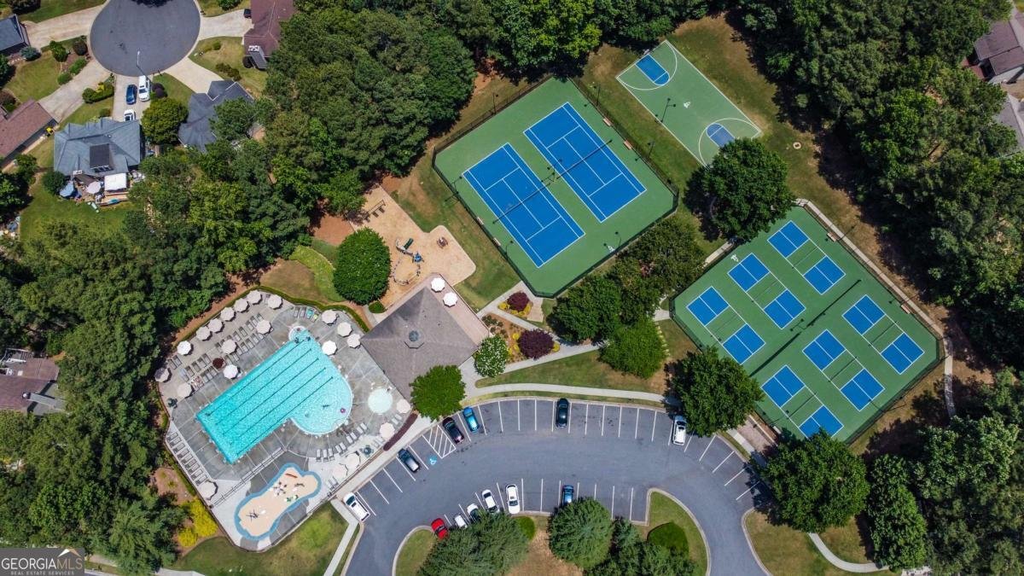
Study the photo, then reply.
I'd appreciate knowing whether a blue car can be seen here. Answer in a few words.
Yes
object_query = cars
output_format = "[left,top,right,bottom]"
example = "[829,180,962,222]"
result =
[673,416,688,445]
[506,483,520,514]
[124,107,136,123]
[481,486,501,516]
[344,491,369,523]
[462,405,479,434]
[465,500,485,530]
[124,83,138,105]
[555,399,569,427]
[398,446,421,475]
[450,509,467,533]
[560,483,573,510]
[442,419,464,444]
[428,514,450,544]
[240,7,250,19]
[137,74,151,100]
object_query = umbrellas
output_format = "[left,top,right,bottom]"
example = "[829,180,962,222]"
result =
[197,325,211,340]
[323,340,338,355]
[209,318,224,332]
[234,298,250,313]
[346,333,362,348]
[177,382,194,399]
[221,307,236,321]
[337,322,352,337]
[222,338,237,354]
[430,277,445,292]
[333,464,349,481]
[322,309,338,324]
[200,480,216,498]
[59,182,76,199]
[213,357,226,371]
[257,320,272,334]
[396,398,411,414]
[380,423,397,439]
[443,292,458,306]
[177,340,194,357]
[345,454,362,471]
[269,294,283,309]
[247,290,262,303]
[155,367,171,383]
[223,364,240,380]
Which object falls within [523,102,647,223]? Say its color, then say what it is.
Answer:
blue tennis court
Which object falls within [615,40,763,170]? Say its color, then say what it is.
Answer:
green basketball court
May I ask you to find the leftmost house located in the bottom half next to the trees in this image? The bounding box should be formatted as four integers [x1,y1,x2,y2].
[0,355,71,415]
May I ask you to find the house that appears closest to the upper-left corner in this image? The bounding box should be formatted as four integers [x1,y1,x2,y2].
[0,15,30,68]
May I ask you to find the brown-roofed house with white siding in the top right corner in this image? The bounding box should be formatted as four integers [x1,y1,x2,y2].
[967,20,1024,85]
